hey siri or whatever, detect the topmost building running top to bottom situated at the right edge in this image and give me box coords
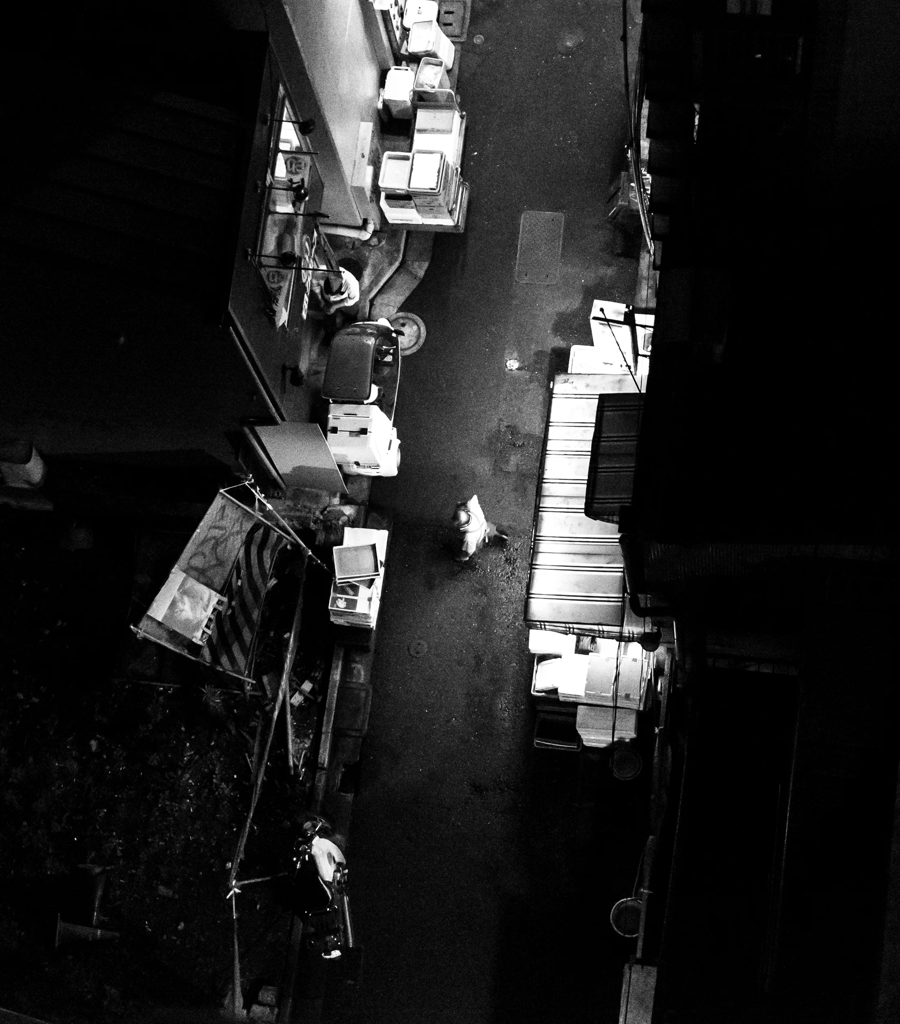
[616,0,900,648]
